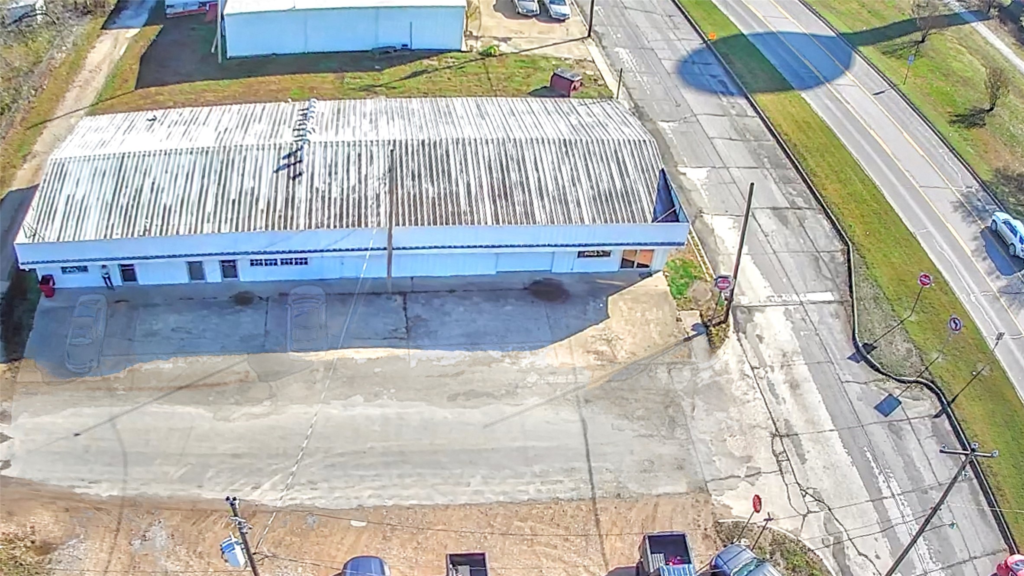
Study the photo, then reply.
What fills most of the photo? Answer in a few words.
paved ground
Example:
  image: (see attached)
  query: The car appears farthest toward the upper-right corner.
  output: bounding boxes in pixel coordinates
[991,218,1024,261]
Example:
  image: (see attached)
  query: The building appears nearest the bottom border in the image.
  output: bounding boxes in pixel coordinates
[13,96,691,288]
